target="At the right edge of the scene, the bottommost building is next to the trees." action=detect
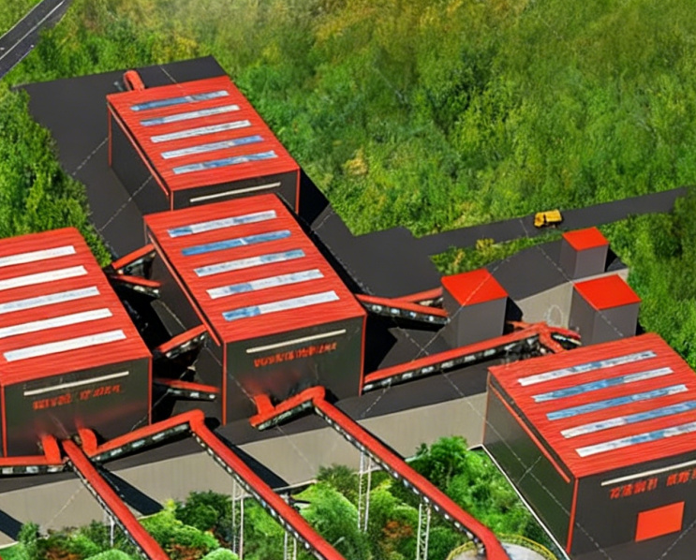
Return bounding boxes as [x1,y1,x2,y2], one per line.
[482,332,696,553]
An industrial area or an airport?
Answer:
industrial area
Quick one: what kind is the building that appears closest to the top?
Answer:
warehouse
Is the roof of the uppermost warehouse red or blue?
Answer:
red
